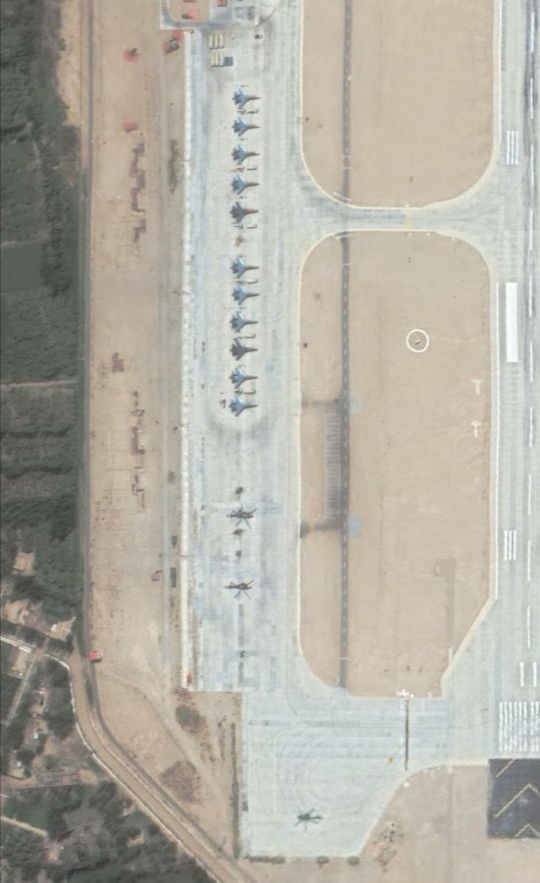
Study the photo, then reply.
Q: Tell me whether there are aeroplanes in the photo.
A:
Yes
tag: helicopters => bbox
[225,574,254,598]
[227,502,255,526]
[293,807,322,830]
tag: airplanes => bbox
[229,341,256,359]
[229,396,256,415]
[232,175,259,193]
[233,88,259,107]
[230,313,257,331]
[229,368,256,386]
[231,285,258,304]
[233,117,261,135]
[231,203,259,221]
[231,259,259,277]
[232,145,260,164]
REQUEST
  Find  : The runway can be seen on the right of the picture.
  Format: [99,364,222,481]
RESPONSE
[490,0,540,760]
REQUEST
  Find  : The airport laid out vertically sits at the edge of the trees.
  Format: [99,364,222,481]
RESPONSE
[161,0,540,856]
